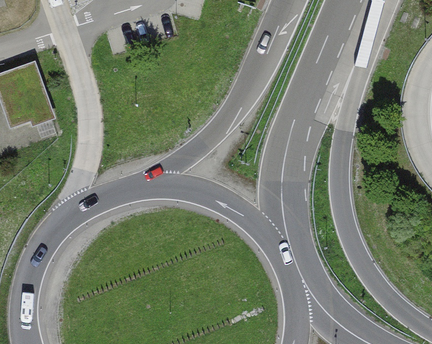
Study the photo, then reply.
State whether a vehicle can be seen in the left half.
Yes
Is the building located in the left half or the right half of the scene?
left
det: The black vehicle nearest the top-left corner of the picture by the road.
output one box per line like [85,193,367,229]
[120,22,133,44]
